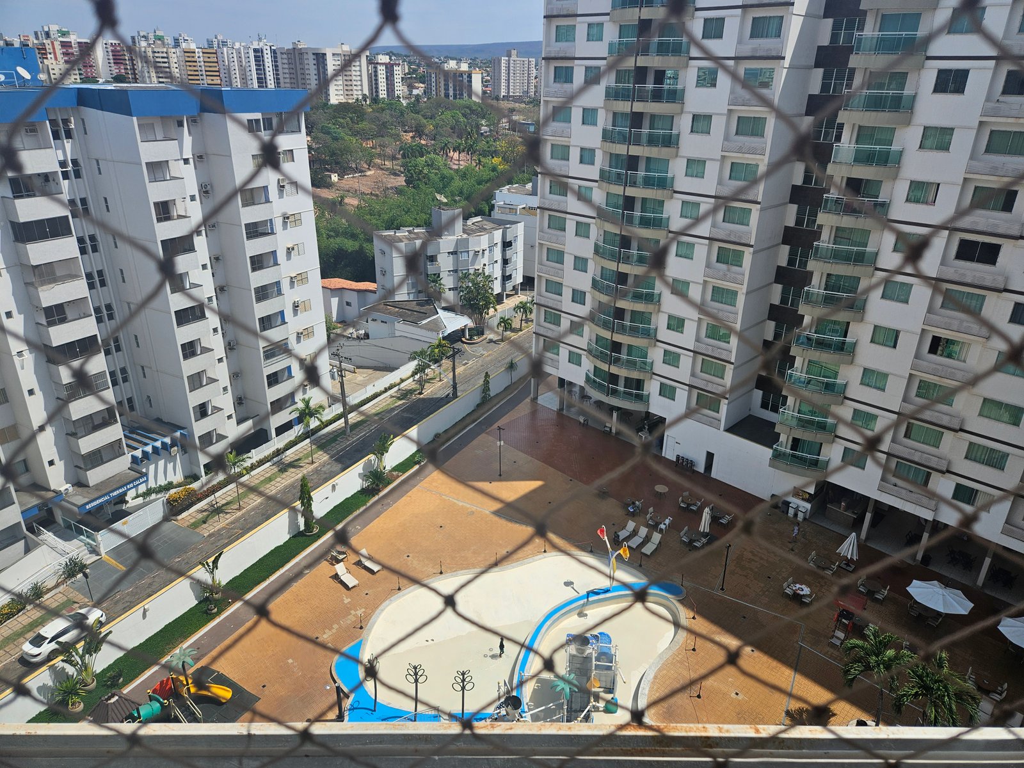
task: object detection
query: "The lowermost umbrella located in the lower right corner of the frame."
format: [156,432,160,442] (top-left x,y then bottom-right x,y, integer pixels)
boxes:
[989,610,1024,664]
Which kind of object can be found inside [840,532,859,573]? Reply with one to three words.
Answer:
umbrella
